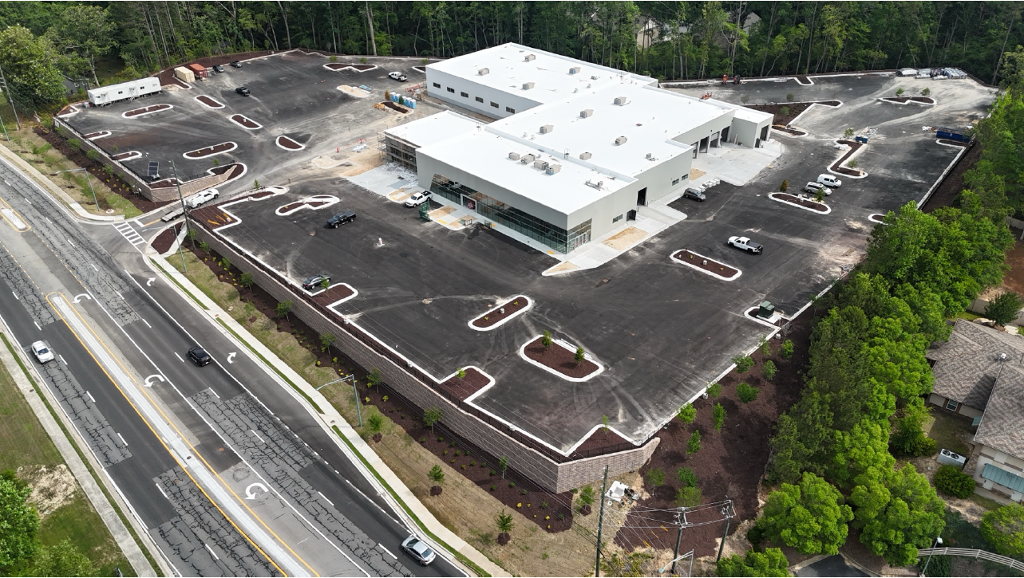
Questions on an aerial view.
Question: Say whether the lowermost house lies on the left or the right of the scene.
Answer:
right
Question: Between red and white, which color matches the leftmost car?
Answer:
white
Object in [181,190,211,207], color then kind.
white vehicle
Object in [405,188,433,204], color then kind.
white vehicle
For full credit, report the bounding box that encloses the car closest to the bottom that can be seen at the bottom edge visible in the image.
[398,533,437,565]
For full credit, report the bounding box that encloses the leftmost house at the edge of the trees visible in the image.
[55,83,92,107]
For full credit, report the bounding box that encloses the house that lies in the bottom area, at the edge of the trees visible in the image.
[929,300,1024,481]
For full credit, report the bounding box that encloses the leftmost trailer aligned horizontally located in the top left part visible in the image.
[87,76,160,105]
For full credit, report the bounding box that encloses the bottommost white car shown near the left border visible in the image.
[30,339,51,360]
